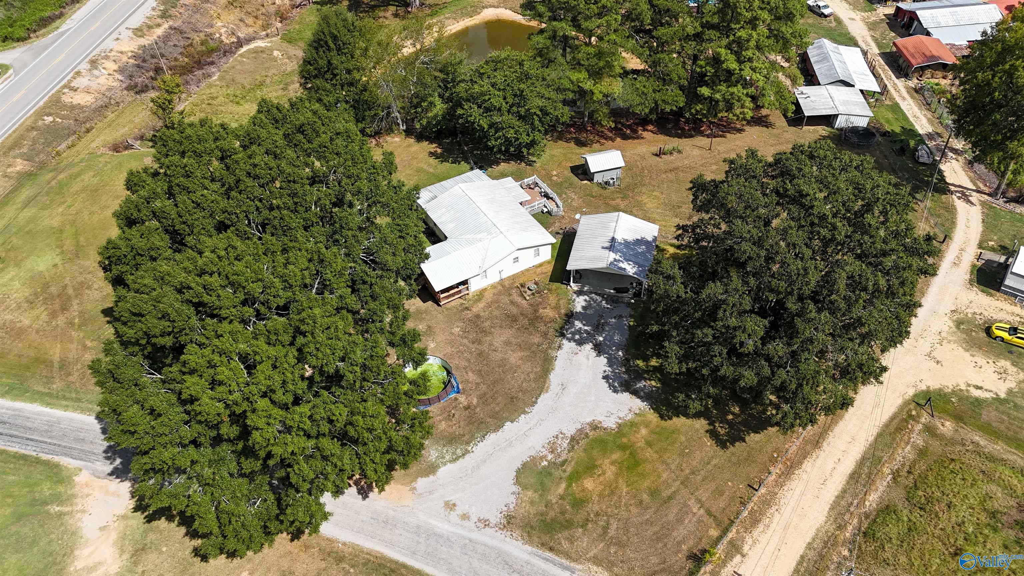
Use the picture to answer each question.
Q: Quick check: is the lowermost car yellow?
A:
Yes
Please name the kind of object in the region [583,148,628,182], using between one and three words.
shed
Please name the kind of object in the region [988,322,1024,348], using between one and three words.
car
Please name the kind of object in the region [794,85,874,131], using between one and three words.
shed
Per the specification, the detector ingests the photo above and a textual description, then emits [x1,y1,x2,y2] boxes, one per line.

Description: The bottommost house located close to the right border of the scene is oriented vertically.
[995,244,1024,312]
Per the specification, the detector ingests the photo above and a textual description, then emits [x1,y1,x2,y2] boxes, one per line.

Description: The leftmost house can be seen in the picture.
[412,169,557,308]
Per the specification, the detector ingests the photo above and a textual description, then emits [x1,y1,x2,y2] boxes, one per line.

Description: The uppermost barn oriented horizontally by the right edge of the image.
[895,0,1005,40]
